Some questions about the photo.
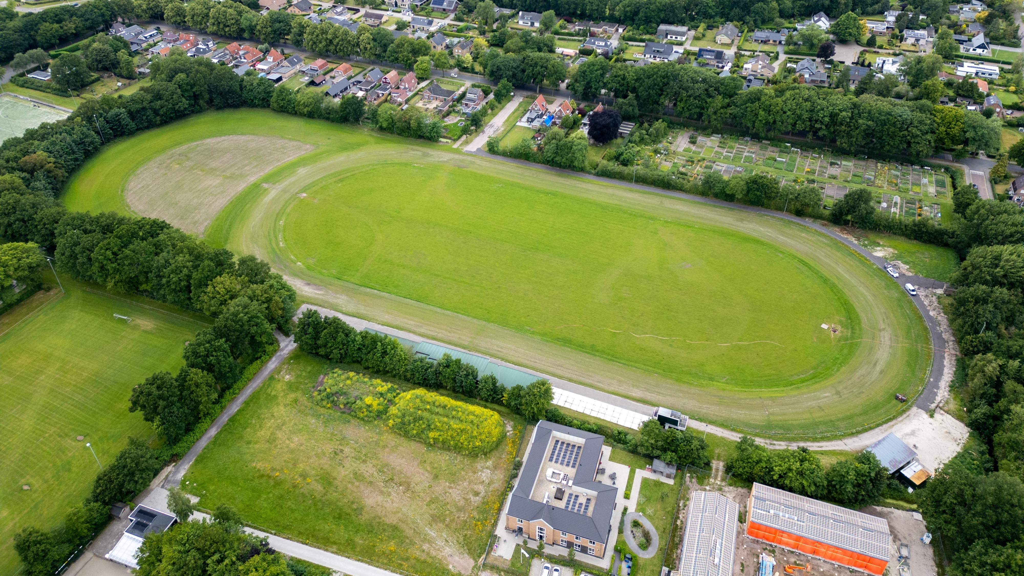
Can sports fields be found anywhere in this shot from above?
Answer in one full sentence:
Yes, a sports field appears in the view.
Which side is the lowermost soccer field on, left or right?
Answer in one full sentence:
The lowermost soccer field appears in the left half of the scene.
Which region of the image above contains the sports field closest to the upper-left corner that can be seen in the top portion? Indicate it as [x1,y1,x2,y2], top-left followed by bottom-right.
[0,97,68,140]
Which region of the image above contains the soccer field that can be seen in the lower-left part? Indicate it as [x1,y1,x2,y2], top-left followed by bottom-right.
[0,285,238,576]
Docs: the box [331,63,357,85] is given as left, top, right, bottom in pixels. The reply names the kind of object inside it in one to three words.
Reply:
house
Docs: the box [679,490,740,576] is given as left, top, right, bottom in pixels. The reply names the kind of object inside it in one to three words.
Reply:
house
